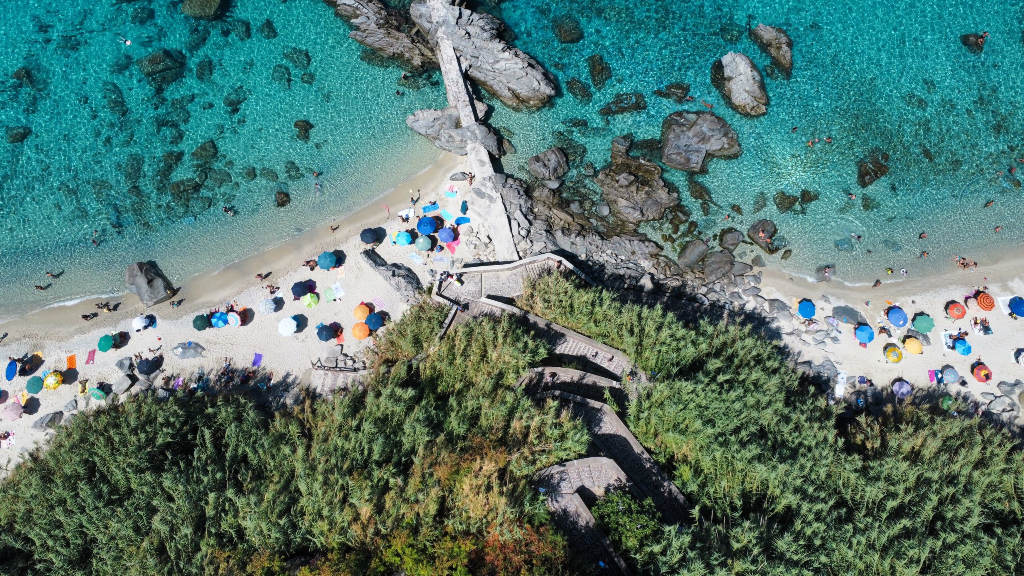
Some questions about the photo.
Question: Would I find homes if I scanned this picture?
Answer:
No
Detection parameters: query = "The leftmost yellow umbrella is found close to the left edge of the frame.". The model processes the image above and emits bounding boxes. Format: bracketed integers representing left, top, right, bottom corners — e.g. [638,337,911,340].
[45,372,64,390]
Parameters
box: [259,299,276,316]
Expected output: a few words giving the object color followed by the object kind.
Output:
white umbrella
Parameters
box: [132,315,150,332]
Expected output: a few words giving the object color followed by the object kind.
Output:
white umbrella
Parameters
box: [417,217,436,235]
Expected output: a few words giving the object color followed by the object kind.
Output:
blue umbrella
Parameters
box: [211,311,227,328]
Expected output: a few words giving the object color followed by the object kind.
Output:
blue umbrella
